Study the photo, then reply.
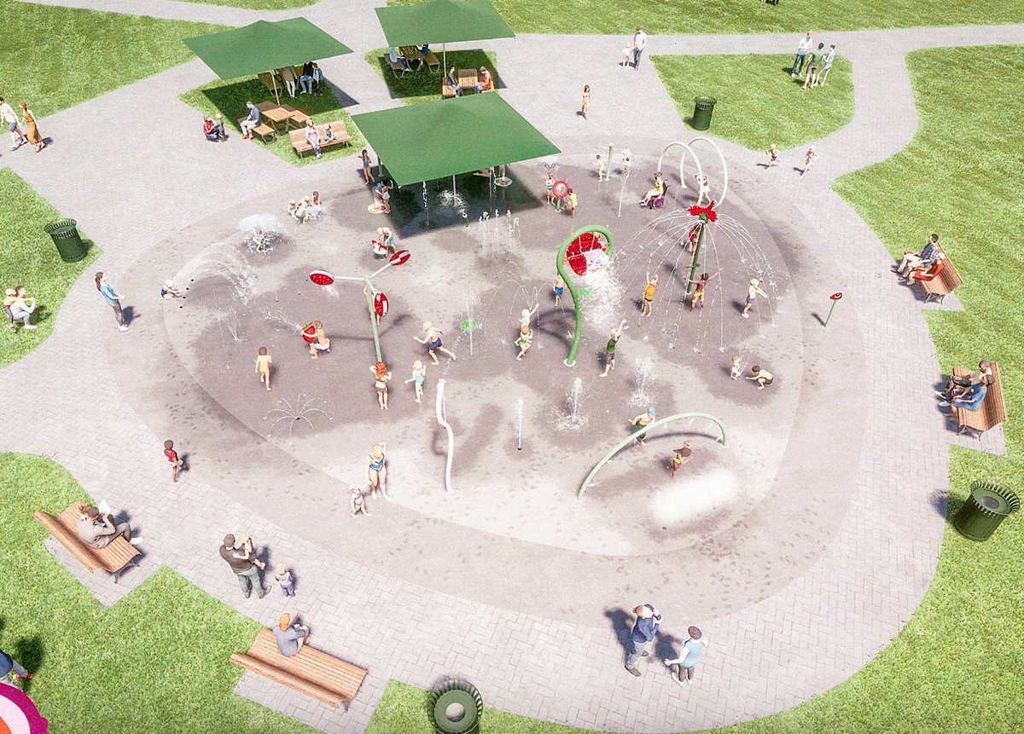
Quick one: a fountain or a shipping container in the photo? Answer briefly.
fountain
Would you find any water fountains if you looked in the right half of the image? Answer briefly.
Yes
